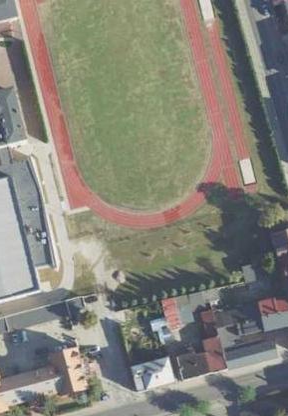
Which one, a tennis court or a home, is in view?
home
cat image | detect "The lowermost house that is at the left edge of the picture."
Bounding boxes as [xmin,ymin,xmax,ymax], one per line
[0,346,88,415]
